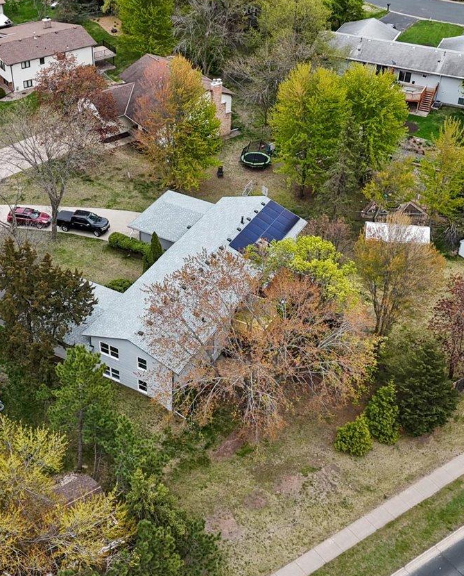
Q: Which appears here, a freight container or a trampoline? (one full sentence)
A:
Looking from above, you can make out a trampoline.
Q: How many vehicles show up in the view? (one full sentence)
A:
The photo contains 2 vehicles.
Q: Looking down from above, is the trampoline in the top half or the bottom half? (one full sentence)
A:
Seen from above, the trampoline lies in the top half of the view.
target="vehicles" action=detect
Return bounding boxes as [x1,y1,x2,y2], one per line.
[7,203,50,227]
[57,207,113,235]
